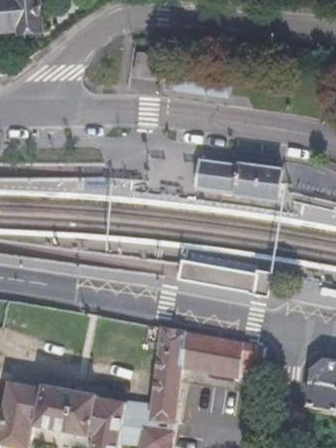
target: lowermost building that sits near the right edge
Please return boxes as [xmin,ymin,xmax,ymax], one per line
[304,358,336,414]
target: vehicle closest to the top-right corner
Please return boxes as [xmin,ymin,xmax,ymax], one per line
[285,148,309,160]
